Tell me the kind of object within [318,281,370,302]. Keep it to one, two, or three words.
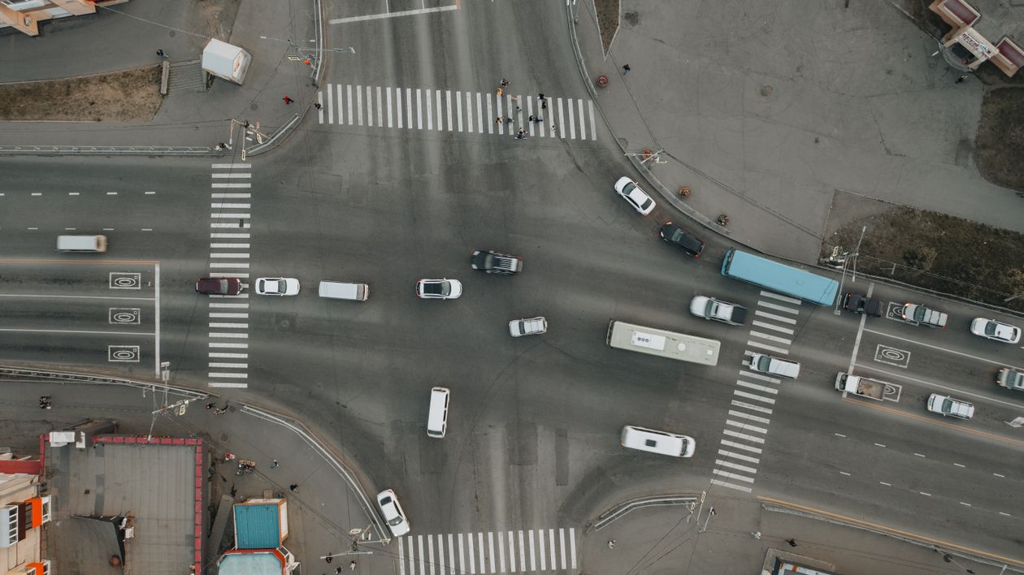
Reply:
vehicle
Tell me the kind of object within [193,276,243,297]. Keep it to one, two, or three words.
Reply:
car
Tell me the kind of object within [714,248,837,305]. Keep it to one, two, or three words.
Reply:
bus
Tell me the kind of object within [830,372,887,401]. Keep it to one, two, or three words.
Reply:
truck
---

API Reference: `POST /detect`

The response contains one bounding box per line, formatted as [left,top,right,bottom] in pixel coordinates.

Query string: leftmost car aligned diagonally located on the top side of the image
[613,174,658,218]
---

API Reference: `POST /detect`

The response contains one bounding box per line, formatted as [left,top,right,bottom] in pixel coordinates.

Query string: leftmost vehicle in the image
[54,233,110,253]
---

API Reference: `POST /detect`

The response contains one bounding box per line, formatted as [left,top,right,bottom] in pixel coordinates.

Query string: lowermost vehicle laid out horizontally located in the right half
[618,423,696,458]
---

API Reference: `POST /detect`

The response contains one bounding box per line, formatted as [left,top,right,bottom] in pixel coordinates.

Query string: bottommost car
[377,487,409,536]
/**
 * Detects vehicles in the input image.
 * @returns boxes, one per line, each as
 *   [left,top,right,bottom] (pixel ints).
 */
[318,281,370,302]
[193,276,243,297]
[613,174,658,218]
[924,395,977,420]
[470,251,523,274]
[830,372,887,401]
[900,305,950,329]
[841,294,886,317]
[714,248,837,305]
[255,276,301,297]
[994,369,1024,391]
[968,318,1022,344]
[508,317,548,337]
[688,299,749,325]
[426,385,450,438]
[377,487,409,536]
[54,233,110,253]
[416,278,463,299]
[618,423,696,458]
[604,319,720,365]
[745,352,802,379]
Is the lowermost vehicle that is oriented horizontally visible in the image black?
No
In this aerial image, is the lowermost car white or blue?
white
